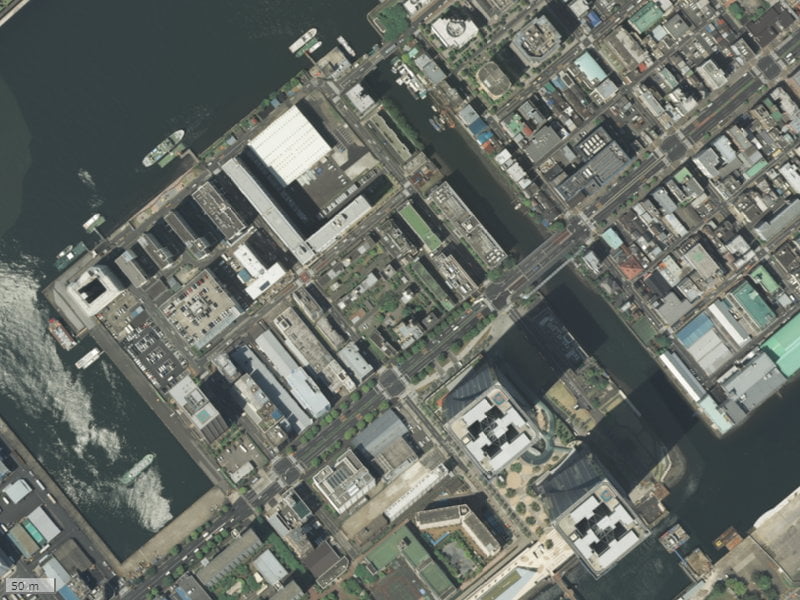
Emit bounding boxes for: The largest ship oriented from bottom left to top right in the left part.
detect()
[140,130,186,168]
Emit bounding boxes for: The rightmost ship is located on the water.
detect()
[712,526,743,551]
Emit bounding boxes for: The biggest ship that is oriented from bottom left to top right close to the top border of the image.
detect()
[288,29,317,54]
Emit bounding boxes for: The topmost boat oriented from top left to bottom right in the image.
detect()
[338,38,356,58]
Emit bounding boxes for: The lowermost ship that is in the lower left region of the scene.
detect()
[120,454,155,484]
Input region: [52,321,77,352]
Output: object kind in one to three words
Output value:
ship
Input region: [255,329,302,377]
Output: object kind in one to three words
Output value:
building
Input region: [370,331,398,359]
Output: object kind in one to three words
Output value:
building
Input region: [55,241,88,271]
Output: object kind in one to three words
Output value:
pier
